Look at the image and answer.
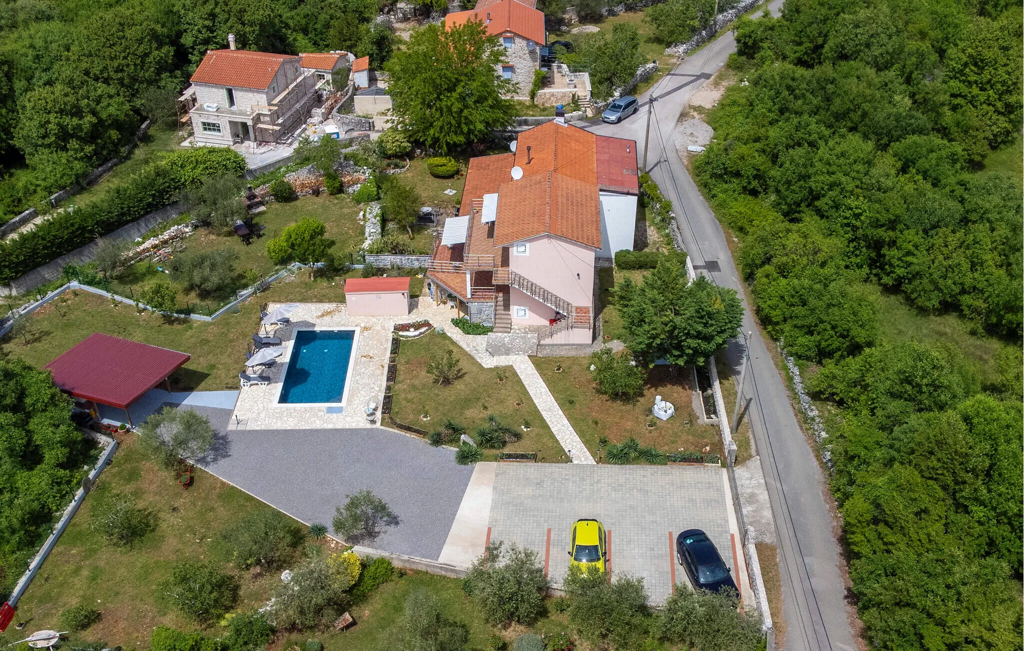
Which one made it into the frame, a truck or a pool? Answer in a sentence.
It is a pool that can be seen here.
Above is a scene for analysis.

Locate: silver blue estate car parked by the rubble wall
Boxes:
[600,95,638,123]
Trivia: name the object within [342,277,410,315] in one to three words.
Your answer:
shed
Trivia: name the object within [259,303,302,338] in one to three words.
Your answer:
umbrella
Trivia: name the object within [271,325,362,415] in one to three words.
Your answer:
swimming pool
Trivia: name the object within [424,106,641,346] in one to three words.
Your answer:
house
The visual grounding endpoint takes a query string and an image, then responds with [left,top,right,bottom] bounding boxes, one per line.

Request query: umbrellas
[243,343,285,378]
[259,303,302,338]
